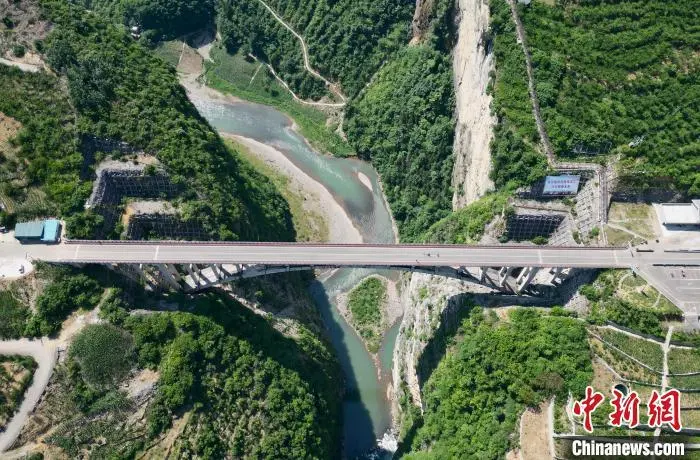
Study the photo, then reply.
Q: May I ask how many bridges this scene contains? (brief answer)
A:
1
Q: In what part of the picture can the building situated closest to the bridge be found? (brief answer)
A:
left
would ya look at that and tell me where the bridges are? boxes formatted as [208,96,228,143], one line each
[59,241,636,290]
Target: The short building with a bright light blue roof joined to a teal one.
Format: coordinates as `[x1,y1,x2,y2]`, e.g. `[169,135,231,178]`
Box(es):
[42,219,64,244]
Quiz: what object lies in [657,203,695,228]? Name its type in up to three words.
building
